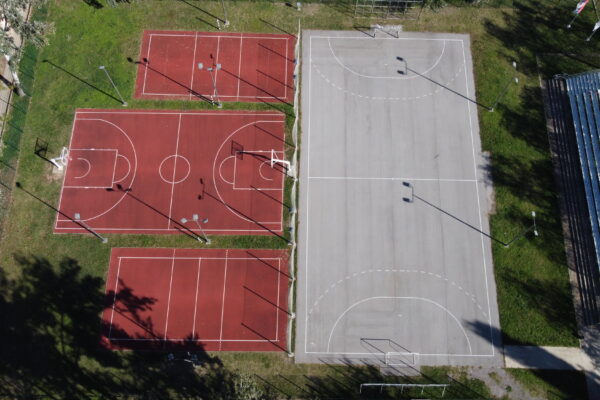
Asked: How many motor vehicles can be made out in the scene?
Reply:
0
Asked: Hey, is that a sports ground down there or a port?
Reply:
sports ground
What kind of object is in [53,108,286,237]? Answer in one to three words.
basketball court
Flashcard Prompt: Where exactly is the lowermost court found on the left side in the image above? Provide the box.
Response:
[98,247,291,352]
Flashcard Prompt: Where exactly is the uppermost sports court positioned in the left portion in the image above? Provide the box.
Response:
[134,31,296,102]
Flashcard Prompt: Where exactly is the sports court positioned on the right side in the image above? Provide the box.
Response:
[295,30,506,377]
